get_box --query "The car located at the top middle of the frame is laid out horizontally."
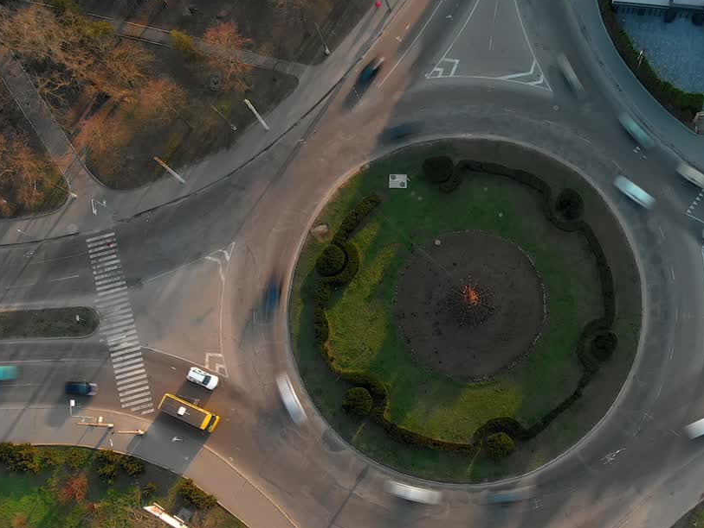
[383,121,417,140]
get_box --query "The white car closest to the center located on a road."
[275,377,306,422]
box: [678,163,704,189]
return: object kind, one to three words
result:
car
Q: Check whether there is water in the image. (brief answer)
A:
No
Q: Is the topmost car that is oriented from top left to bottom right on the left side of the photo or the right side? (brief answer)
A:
right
